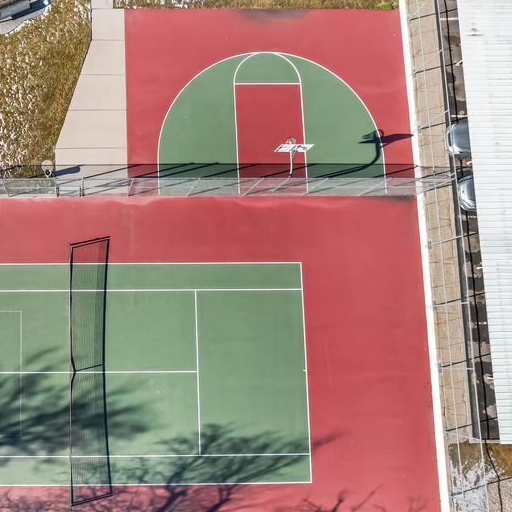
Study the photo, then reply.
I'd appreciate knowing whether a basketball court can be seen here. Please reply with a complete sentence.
Yes, there's a basketball court down there.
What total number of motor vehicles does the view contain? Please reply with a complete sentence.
In total, 2 motor vehicles can be seen.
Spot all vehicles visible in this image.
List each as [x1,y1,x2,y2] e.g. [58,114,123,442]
[447,121,472,158]
[457,176,477,213]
